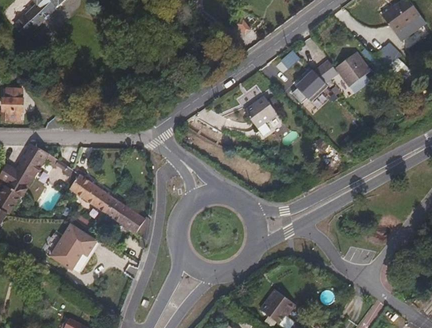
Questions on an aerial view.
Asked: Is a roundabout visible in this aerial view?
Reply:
Yes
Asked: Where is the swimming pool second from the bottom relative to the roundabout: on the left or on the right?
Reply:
left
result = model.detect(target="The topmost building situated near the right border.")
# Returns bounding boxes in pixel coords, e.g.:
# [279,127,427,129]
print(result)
[382,0,428,48]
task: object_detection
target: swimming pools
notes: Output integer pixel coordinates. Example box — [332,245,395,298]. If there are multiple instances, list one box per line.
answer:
[40,188,60,210]
[282,131,300,144]
[320,288,336,304]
